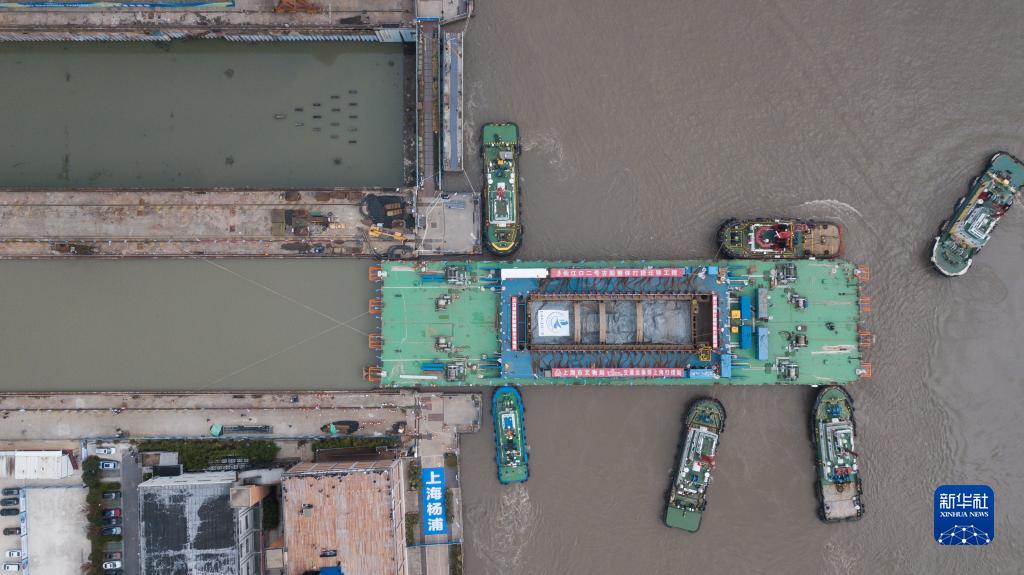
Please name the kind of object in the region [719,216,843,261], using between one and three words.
boat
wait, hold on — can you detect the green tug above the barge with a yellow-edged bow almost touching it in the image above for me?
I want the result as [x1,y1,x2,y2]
[479,123,523,256]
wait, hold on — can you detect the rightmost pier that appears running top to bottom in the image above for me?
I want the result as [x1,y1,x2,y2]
[443,32,463,171]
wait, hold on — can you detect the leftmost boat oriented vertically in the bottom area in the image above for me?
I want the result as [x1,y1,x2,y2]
[491,386,529,484]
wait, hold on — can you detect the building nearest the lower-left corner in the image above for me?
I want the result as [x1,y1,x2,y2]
[0,448,77,484]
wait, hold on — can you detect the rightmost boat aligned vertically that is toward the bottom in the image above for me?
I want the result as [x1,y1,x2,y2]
[812,386,866,521]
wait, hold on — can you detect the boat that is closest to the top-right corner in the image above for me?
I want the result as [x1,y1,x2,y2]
[930,147,1024,280]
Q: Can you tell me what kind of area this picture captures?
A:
port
